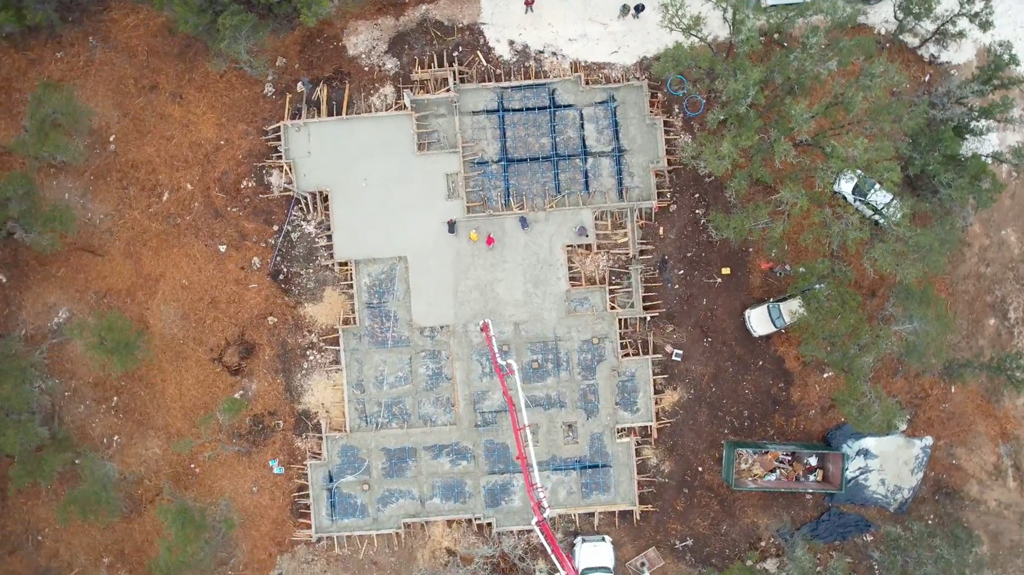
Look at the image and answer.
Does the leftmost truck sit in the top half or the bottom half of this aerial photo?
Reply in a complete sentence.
The leftmost truck sits in the bottom half of the picture.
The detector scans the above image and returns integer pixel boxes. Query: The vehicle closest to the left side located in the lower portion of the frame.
[477,318,622,575]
